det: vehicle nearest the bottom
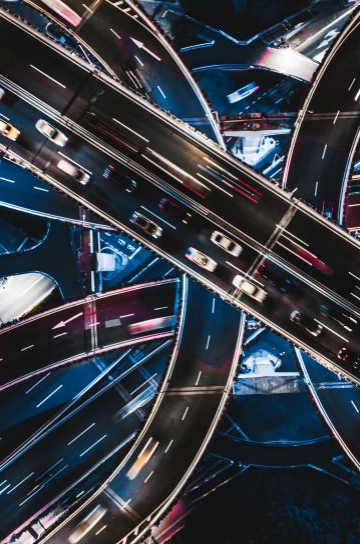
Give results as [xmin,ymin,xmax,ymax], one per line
[70,499,108,543]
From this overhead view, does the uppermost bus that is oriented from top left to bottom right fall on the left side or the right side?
left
